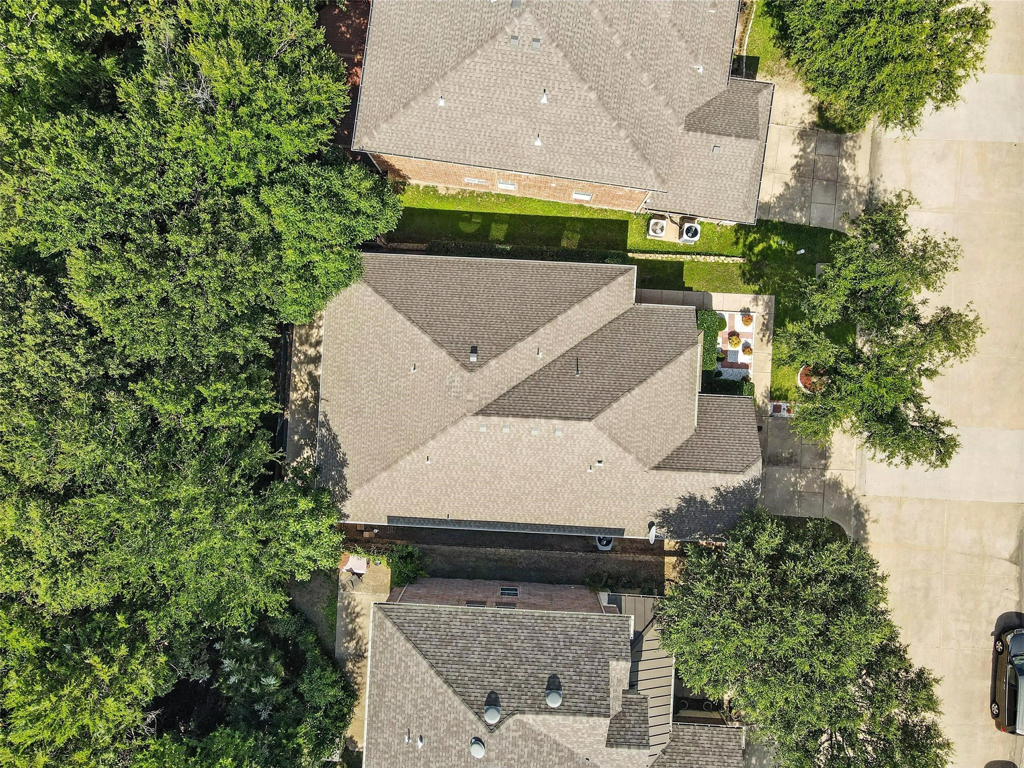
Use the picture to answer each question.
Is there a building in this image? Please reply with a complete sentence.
Yes, I can see a building in this picture.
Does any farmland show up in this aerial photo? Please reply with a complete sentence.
No, farmland can't be seen anywhere here.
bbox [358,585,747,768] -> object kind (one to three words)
house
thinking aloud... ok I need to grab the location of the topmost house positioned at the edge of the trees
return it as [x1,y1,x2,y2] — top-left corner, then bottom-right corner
[350,0,777,227]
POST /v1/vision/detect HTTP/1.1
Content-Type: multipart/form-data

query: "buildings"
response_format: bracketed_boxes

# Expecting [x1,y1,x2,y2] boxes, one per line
[350,0,777,227]
[358,585,747,768]
[313,252,763,544]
